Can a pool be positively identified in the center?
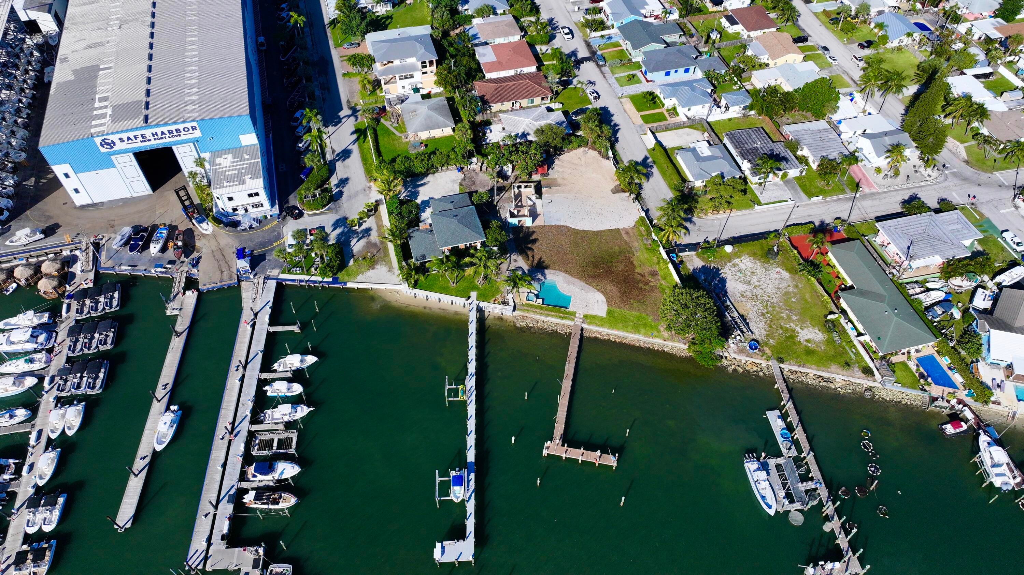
Yes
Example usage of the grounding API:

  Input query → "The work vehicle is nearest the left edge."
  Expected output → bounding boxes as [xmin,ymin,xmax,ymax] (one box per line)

[168,174,205,217]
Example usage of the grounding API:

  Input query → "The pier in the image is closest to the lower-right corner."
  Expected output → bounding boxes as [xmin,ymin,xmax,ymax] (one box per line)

[967,405,1024,491]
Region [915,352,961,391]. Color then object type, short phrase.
blue swimming pool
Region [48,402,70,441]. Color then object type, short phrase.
white boat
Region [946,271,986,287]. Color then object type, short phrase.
white boat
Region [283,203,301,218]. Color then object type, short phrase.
black car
